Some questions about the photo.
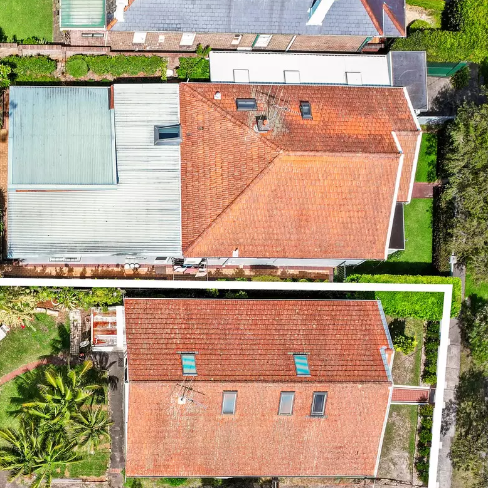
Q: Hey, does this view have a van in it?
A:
No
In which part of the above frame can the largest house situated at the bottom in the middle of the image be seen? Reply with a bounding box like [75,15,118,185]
[123,298,396,480]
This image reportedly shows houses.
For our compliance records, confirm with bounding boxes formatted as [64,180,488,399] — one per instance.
[102,0,408,52]
[6,80,425,266]
[123,298,396,480]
